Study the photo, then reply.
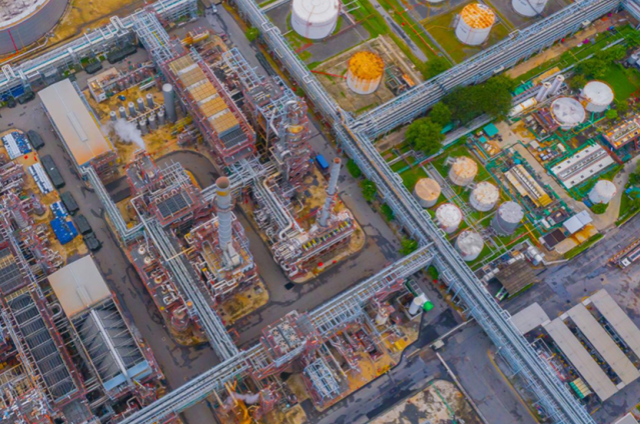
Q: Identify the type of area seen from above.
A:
industrial area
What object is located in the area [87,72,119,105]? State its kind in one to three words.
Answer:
building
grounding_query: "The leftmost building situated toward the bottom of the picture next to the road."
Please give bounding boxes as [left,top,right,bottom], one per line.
[47,254,110,315]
